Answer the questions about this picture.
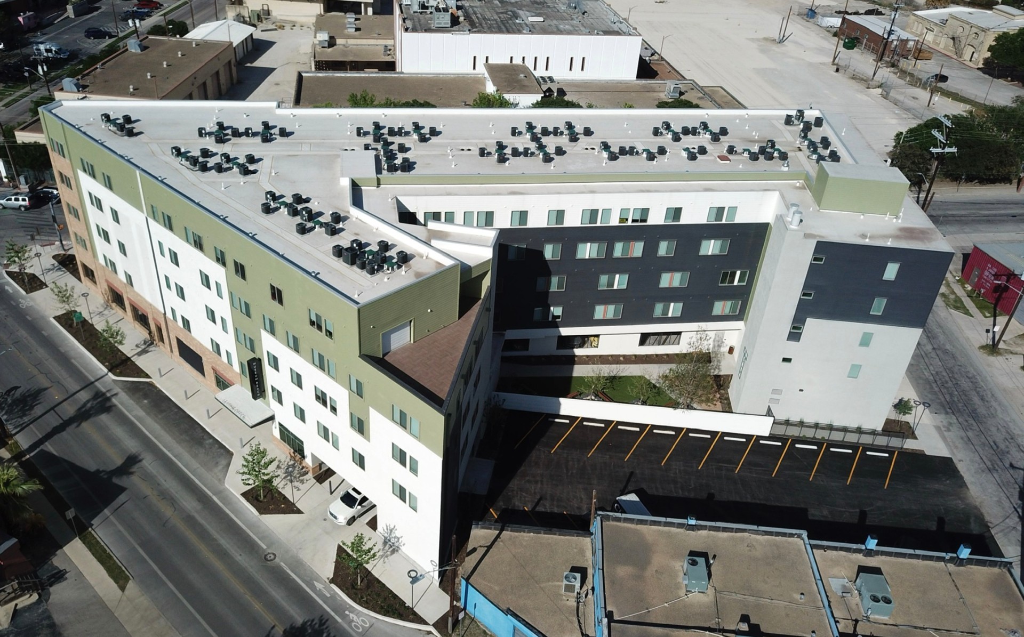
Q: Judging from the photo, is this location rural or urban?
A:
urban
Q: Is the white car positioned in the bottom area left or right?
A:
left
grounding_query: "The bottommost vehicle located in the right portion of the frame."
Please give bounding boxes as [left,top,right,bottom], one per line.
[610,495,650,516]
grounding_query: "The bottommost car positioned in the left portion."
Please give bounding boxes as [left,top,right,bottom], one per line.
[327,488,375,529]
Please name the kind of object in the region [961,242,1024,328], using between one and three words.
shed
